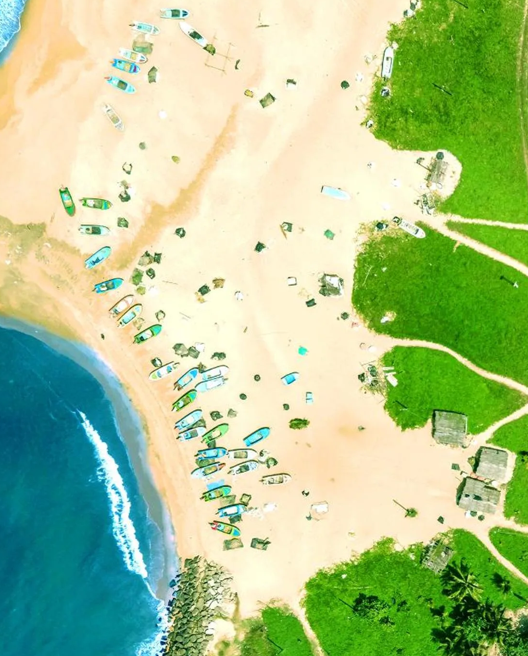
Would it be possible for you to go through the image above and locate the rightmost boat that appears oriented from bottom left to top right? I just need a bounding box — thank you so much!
[278,374,298,387]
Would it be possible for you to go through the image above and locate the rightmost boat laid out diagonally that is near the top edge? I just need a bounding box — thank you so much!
[176,20,208,49]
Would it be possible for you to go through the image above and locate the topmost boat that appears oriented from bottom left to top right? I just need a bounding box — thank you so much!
[82,247,109,269]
